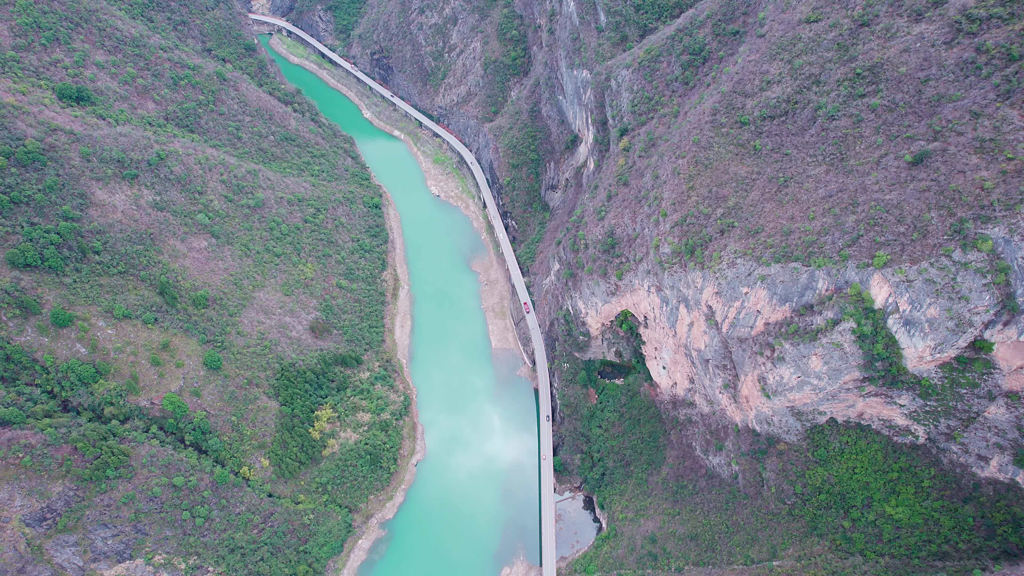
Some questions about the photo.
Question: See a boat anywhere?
No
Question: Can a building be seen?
No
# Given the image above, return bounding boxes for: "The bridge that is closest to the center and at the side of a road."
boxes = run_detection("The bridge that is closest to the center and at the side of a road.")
[479,184,557,576]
